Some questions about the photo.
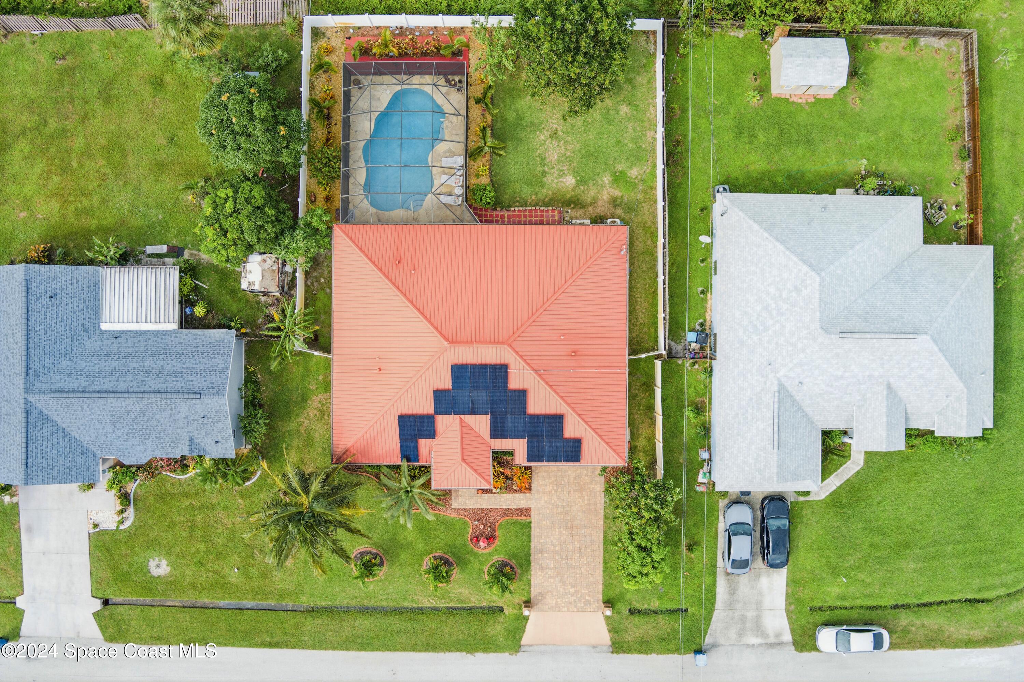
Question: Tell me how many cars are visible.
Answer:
three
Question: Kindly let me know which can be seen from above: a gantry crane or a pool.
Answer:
pool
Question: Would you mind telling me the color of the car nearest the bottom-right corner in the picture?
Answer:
white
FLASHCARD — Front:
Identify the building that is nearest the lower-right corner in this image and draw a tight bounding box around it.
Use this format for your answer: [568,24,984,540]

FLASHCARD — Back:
[706,192,994,491]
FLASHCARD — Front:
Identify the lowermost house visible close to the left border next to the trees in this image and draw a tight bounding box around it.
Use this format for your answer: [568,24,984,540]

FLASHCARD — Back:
[0,262,244,488]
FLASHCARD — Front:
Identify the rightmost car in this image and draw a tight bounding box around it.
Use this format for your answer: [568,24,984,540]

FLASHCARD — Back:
[816,621,892,658]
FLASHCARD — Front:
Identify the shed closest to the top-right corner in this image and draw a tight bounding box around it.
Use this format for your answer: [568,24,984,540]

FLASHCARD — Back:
[771,33,854,95]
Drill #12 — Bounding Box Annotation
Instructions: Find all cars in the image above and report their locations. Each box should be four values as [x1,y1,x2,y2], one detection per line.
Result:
[816,621,892,658]
[722,500,758,574]
[759,494,795,569]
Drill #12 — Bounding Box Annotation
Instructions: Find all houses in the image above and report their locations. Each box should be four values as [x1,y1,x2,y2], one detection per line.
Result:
[0,262,244,488]
[330,223,633,491]
[706,192,994,491]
